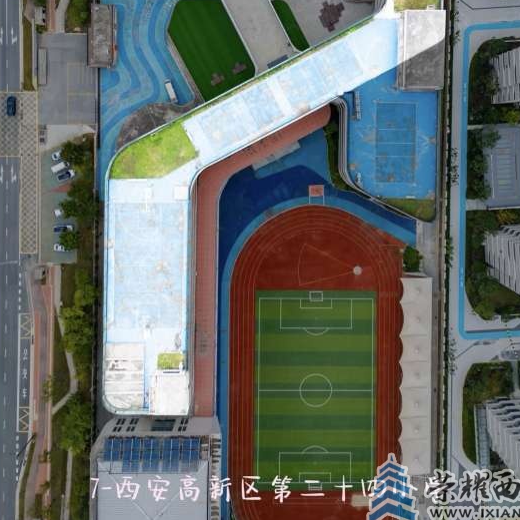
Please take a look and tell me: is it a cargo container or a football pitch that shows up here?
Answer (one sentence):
Visible in the photo is a football pitch.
